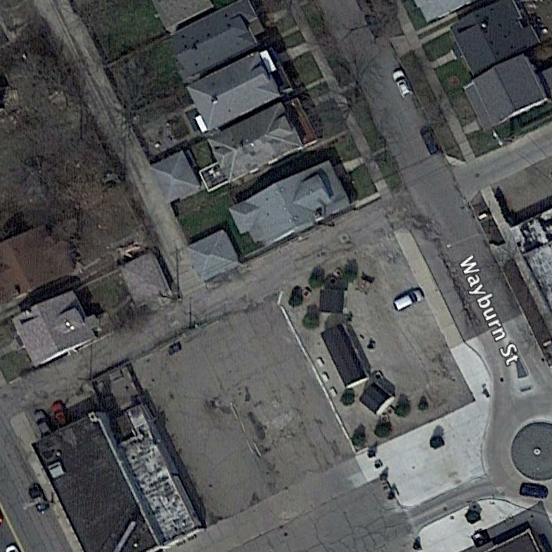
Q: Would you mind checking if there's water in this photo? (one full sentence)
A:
No, the scene doesn't show any water.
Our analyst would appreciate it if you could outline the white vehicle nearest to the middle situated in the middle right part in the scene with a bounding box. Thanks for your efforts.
[395,289,424,310]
